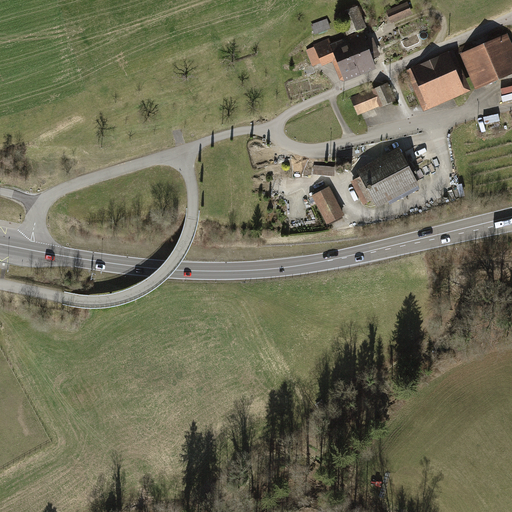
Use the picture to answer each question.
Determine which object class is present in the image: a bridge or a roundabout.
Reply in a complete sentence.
I can see a bridge in this picture.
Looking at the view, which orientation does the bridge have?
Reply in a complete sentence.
In this picture, the bridge is oriented at an angle.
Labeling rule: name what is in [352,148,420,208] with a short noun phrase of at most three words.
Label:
building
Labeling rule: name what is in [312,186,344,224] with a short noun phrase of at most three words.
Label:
house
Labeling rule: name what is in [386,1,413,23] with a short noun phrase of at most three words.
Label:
shed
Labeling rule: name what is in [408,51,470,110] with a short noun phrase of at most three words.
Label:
barn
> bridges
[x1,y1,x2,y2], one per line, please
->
[57,206,200,308]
